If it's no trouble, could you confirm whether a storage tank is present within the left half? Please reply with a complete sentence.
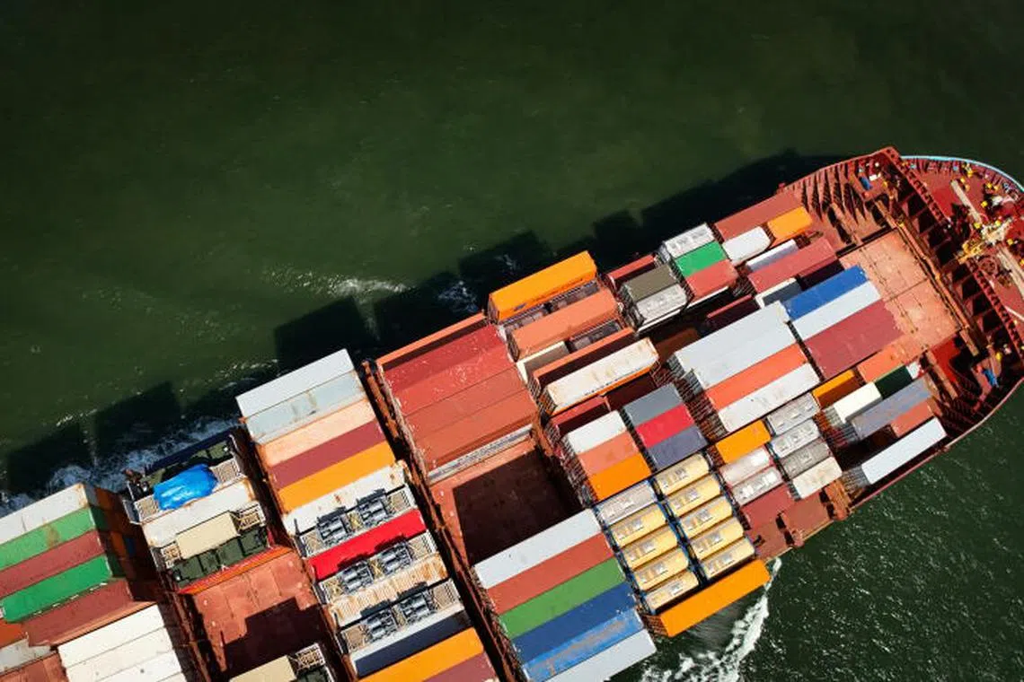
No, the scene shows no storage tank within the left half.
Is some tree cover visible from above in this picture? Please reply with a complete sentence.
No, tree cover can't be seen anywhere here.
